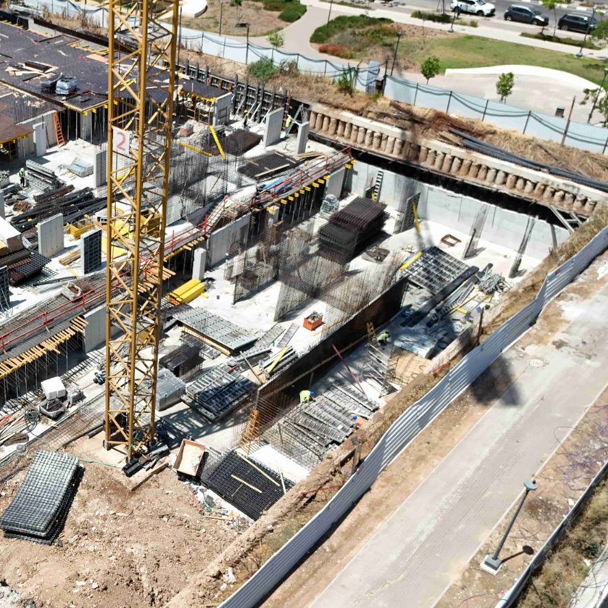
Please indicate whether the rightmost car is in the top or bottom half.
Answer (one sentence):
You can find the rightmost car in the top half.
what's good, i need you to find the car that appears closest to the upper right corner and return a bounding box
[554,13,608,35]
